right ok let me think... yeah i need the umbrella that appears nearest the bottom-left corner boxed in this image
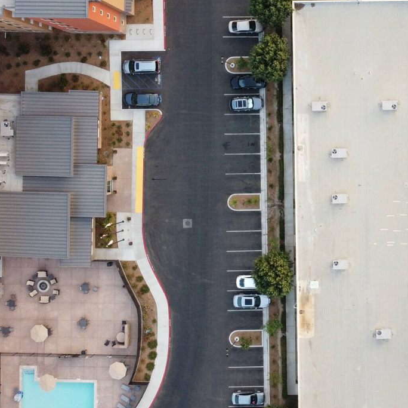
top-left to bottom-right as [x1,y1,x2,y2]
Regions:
[38,373,56,392]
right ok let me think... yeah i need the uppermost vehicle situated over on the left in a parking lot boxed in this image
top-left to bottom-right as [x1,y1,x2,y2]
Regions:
[125,58,162,75]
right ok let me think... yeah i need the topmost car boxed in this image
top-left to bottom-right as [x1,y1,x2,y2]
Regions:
[228,19,263,35]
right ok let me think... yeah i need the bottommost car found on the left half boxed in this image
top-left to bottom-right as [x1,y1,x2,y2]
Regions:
[126,92,163,108]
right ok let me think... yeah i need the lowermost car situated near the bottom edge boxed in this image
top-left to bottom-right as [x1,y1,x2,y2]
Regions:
[232,389,266,406]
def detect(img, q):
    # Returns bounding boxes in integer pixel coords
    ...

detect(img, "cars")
[228,19,263,35]
[231,73,266,90]
[126,92,163,108]
[231,96,263,112]
[232,389,266,406]
[125,58,162,75]
[233,293,272,309]
[235,274,266,290]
